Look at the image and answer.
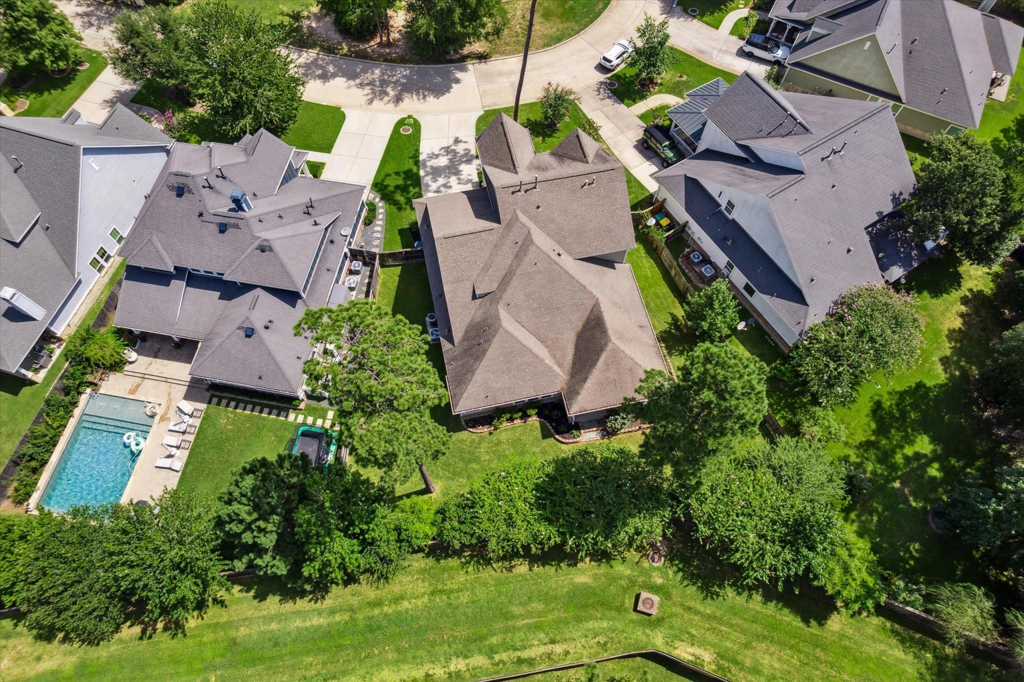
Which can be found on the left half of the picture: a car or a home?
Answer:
home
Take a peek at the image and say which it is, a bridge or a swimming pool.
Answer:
swimming pool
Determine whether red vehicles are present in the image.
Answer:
No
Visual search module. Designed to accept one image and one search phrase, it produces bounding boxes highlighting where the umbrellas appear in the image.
[162,442,182,456]
[173,408,192,422]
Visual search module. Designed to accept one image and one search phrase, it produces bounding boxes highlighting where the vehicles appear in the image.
[597,36,637,69]
[742,27,792,64]
[641,119,687,167]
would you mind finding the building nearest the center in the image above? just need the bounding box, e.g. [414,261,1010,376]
[412,112,668,428]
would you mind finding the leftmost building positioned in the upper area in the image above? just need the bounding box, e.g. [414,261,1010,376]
[0,103,176,381]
